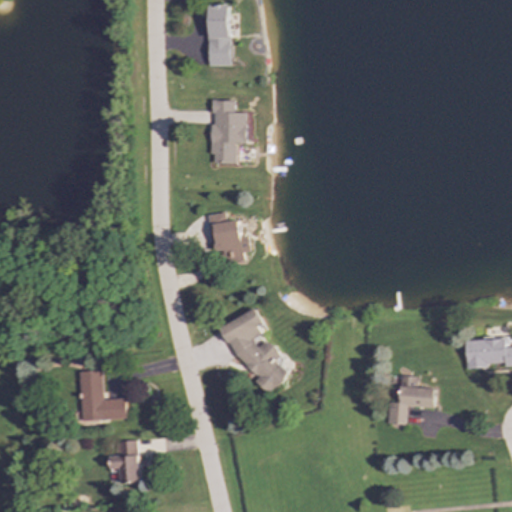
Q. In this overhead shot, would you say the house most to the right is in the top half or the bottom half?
bottom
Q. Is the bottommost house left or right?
left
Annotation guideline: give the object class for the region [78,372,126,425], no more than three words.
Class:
house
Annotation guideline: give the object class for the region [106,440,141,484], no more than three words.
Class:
house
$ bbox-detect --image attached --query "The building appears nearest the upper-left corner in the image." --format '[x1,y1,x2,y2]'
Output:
[208,4,242,67]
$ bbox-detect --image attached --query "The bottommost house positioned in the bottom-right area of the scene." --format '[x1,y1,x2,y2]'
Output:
[390,374,438,426]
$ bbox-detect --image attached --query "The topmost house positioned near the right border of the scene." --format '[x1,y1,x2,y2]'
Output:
[465,328,512,371]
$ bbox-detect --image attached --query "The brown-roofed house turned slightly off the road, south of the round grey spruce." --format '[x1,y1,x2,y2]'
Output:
[208,212,250,262]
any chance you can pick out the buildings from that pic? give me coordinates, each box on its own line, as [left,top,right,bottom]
[106,440,141,484]
[465,328,512,371]
[78,372,126,425]
[208,212,250,262]
[206,100,254,165]
[390,374,438,426]
[208,4,242,67]
[222,308,292,391]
